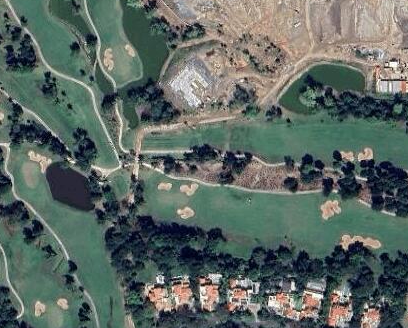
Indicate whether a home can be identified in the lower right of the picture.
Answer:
Yes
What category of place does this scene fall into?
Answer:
golf course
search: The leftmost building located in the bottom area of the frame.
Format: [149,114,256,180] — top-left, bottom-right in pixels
[145,273,175,311]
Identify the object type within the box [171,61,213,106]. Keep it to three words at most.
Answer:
building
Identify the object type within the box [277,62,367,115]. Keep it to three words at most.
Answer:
pond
